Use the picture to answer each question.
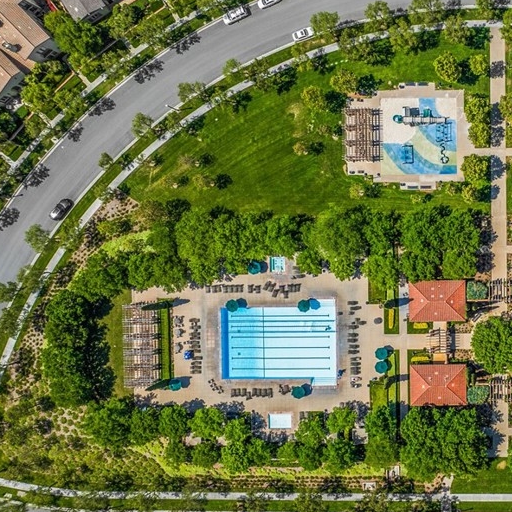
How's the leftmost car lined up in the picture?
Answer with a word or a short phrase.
diagonally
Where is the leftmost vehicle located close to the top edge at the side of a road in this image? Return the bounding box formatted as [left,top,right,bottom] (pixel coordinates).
[222,5,248,24]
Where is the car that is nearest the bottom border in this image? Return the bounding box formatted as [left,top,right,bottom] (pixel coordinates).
[48,197,71,221]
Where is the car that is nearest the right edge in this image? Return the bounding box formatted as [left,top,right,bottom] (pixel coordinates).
[289,26,313,41]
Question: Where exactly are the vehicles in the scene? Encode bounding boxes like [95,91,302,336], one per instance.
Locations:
[48,197,71,221]
[256,0,280,8]
[222,5,248,24]
[289,26,313,41]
